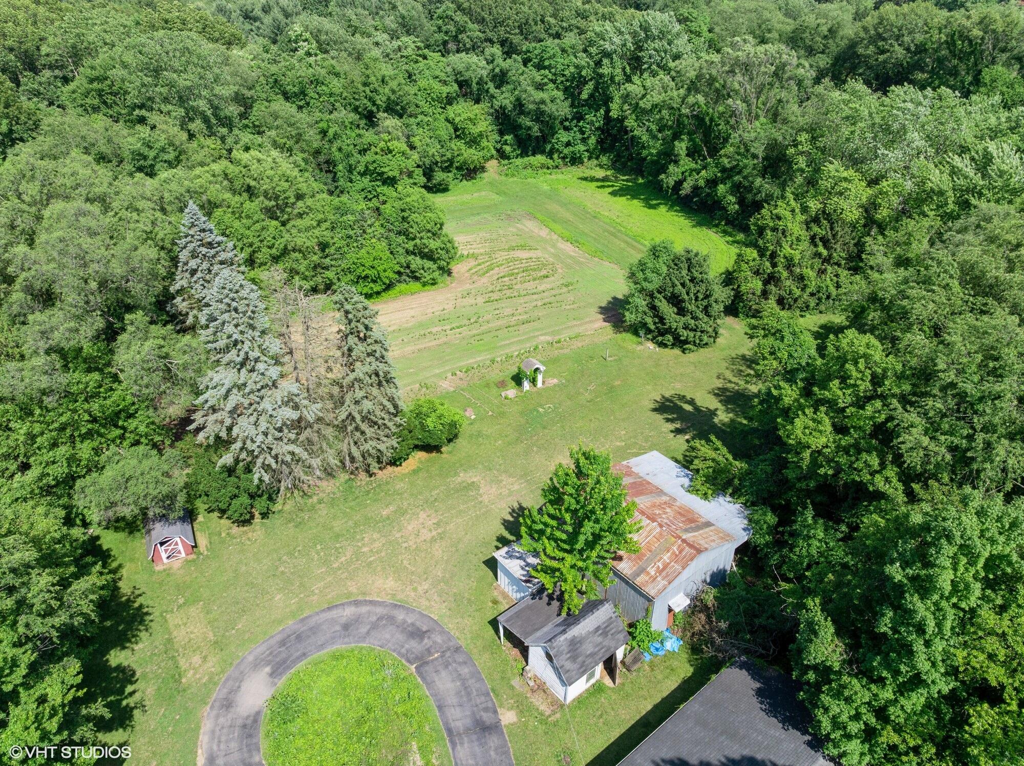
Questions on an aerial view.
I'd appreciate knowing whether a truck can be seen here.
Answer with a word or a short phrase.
No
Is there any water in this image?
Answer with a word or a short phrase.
No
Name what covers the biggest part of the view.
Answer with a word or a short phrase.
trees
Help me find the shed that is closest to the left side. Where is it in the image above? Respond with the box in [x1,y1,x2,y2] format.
[144,503,195,566]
